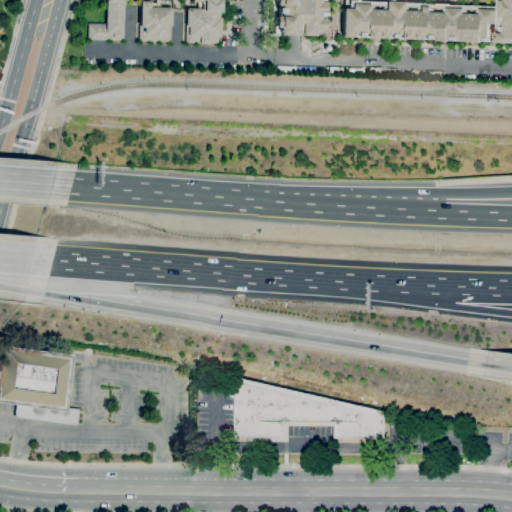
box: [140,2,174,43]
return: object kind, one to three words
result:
building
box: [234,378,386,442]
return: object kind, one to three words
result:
building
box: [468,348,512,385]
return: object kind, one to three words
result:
overpass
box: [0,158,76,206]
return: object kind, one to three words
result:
overpass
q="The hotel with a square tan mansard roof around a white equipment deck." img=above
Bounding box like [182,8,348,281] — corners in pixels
[0,348,73,411]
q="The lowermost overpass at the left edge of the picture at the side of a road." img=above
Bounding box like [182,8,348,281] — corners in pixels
[0,234,58,304]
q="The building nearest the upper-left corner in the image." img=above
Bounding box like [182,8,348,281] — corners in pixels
[88,0,126,42]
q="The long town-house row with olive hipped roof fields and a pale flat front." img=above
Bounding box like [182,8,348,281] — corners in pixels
[346,2,499,42]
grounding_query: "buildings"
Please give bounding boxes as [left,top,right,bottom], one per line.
[234,378,386,442]
[282,0,332,37]
[140,2,174,43]
[186,0,226,46]
[88,0,126,42]
[346,2,499,42]
[0,348,73,411]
